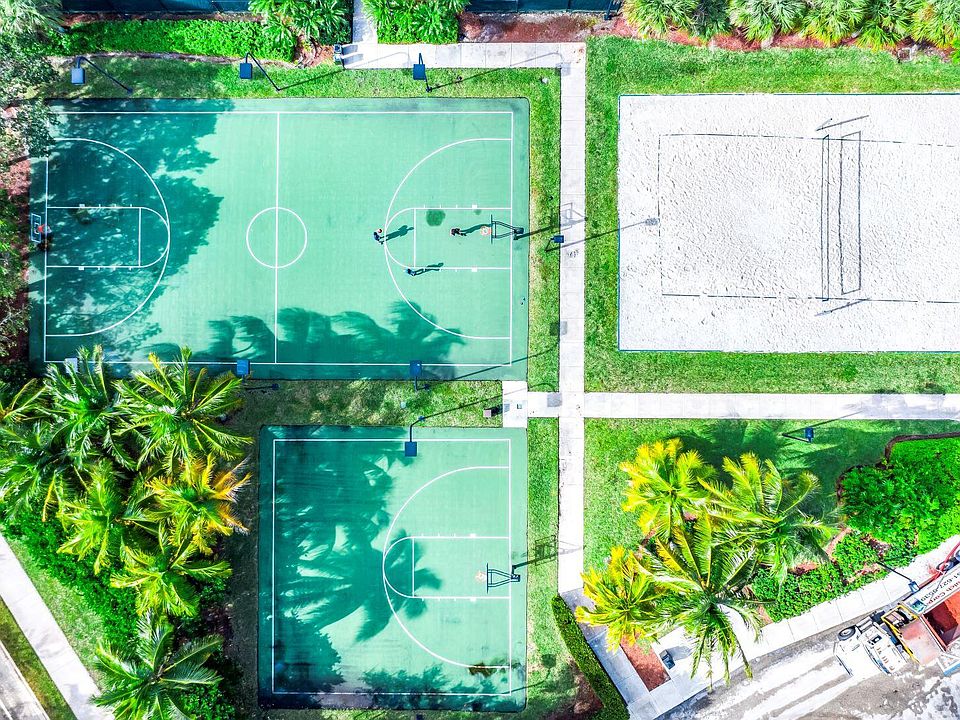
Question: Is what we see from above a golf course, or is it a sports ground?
sports ground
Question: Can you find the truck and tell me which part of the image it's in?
bottom right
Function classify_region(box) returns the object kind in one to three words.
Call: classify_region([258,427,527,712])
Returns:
basketball court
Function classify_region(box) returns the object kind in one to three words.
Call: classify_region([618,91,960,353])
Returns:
sports court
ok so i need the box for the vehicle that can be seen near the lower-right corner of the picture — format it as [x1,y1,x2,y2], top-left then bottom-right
[831,556,960,688]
